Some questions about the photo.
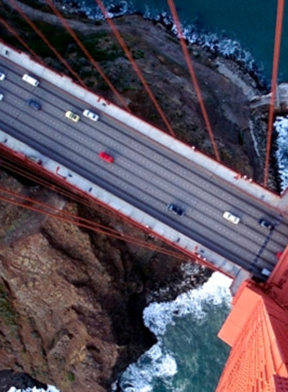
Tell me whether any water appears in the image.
Yes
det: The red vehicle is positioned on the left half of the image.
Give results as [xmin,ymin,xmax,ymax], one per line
[99,150,117,164]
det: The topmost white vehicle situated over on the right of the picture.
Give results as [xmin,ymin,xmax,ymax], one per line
[223,212,241,225]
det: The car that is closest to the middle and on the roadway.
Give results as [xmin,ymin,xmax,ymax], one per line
[168,203,186,217]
